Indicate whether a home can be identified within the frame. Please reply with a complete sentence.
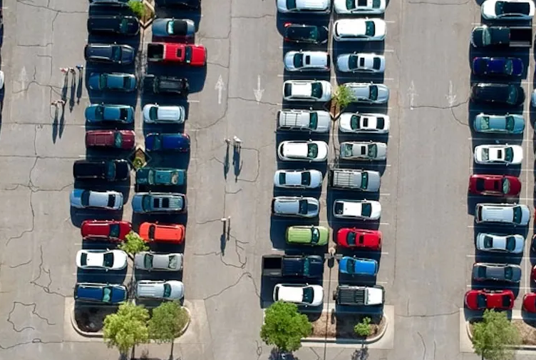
No, the photo shows no home.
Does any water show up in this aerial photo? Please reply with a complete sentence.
No, water can't be seen anywhere here.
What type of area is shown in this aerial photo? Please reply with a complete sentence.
It's a parking lot.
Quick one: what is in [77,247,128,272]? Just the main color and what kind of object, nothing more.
white car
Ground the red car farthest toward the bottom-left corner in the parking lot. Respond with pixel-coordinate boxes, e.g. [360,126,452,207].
[81,218,133,243]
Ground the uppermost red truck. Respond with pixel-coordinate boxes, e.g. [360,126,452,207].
[147,41,206,67]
